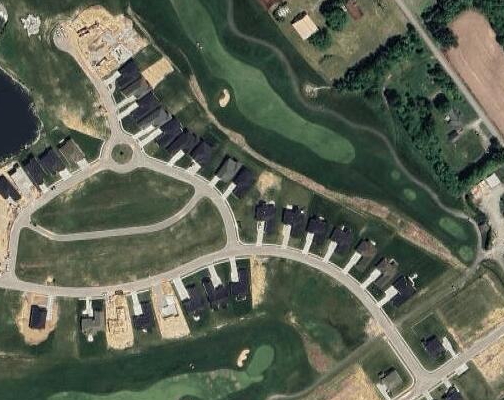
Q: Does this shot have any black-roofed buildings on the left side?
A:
Yes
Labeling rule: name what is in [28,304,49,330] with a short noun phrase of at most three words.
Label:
house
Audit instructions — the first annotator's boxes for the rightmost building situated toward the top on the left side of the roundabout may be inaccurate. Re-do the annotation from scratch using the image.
[57,137,86,165]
